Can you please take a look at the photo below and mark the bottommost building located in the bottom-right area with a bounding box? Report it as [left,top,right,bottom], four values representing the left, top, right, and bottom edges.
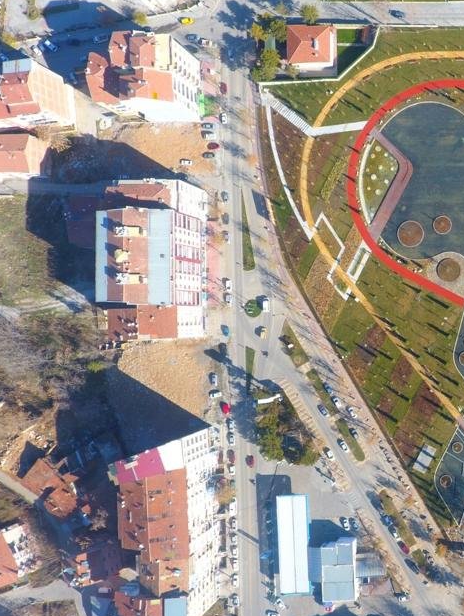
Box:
[322,564,360,601]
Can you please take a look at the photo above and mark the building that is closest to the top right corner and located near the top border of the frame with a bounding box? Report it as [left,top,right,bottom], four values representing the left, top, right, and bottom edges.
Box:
[287,24,335,68]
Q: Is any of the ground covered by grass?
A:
Yes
